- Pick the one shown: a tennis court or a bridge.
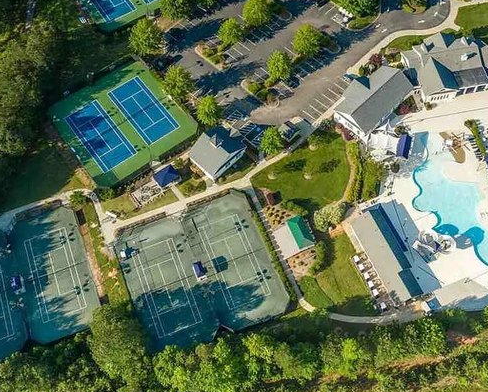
tennis court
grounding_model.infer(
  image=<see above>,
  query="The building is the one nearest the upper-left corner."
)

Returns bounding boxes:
[153,164,183,194]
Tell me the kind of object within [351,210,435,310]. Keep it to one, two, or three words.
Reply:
building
